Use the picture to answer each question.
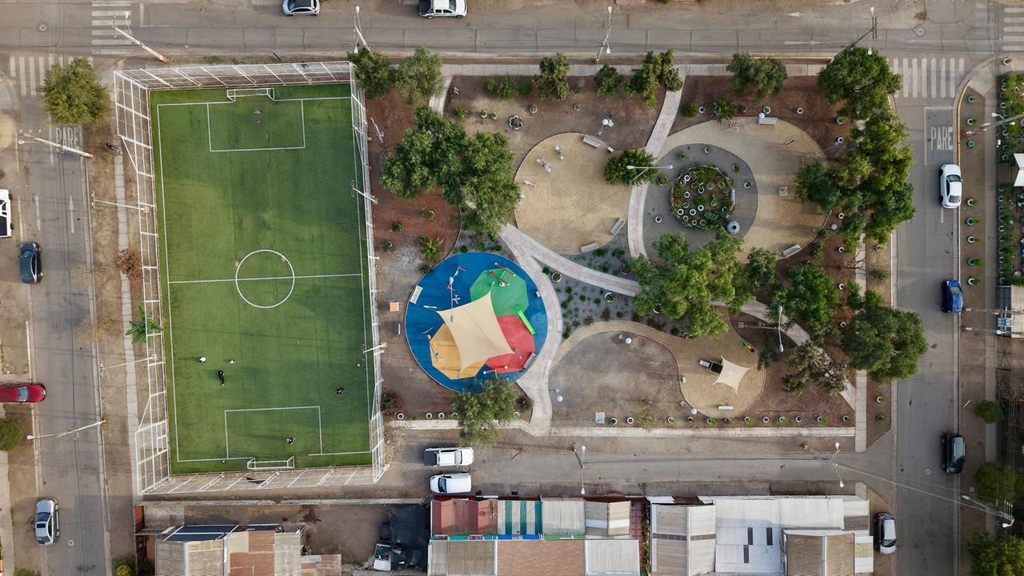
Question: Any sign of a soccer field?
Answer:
Yes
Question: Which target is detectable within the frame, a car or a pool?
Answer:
car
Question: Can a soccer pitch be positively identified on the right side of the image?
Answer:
No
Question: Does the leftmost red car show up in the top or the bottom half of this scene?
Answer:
bottom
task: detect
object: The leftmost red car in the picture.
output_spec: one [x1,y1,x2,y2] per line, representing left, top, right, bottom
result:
[0,383,42,405]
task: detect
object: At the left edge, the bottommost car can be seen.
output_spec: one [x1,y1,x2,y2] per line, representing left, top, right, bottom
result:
[31,499,58,546]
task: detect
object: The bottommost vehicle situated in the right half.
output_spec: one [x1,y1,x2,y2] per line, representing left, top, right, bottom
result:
[869,509,896,552]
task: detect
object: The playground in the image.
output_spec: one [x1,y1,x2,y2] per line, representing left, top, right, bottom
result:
[404,252,550,393]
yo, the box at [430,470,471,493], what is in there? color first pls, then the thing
white vehicle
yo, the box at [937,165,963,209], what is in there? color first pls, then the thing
white car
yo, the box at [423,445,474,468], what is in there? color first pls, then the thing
white truck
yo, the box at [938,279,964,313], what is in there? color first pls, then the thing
blue car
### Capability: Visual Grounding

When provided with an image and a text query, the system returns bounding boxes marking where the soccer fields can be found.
[150,79,387,475]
